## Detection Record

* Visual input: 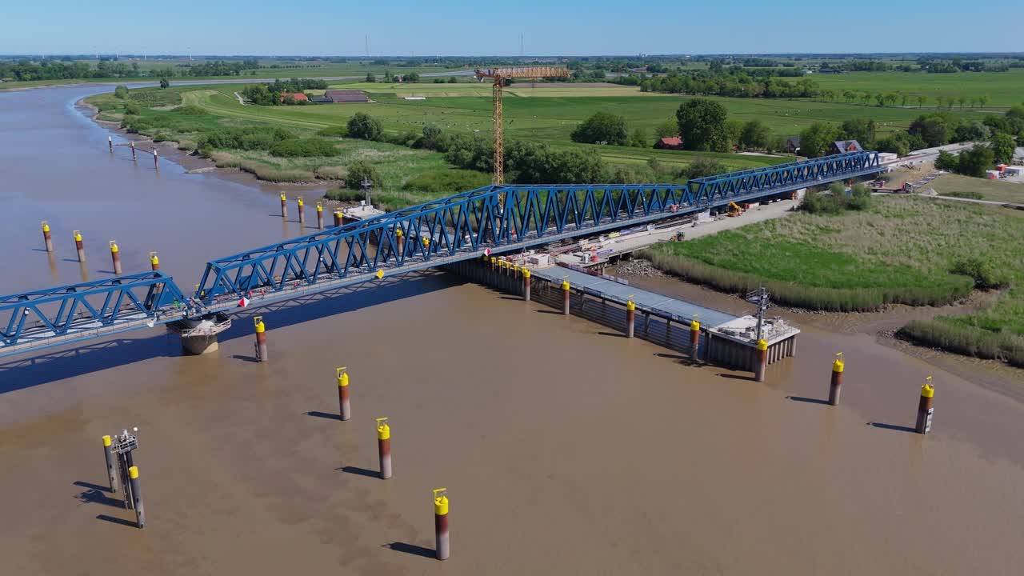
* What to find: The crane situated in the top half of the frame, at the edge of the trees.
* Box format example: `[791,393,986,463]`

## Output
[477,65,570,235]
